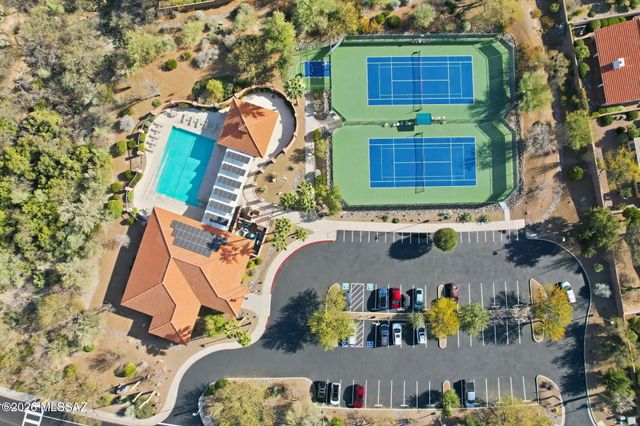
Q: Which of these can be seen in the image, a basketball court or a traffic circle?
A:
basketball court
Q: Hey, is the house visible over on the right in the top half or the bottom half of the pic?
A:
top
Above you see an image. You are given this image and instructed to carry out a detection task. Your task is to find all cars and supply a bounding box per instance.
[354,384,364,407]
[449,282,460,304]
[391,287,401,308]
[392,322,402,345]
[417,324,427,345]
[559,279,578,304]
[342,288,351,310]
[330,382,341,404]
[346,325,354,345]
[316,380,326,402]
[414,289,424,310]
[379,287,389,309]
[380,323,390,345]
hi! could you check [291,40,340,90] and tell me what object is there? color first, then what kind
green basketball court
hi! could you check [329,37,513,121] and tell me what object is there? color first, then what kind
green tennis court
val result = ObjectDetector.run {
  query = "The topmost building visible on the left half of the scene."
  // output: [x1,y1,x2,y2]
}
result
[218,98,279,158]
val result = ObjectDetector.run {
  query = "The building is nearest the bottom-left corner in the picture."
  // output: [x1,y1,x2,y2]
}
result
[118,206,254,346]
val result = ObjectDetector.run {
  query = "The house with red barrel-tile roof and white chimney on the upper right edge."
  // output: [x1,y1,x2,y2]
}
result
[592,11,640,105]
